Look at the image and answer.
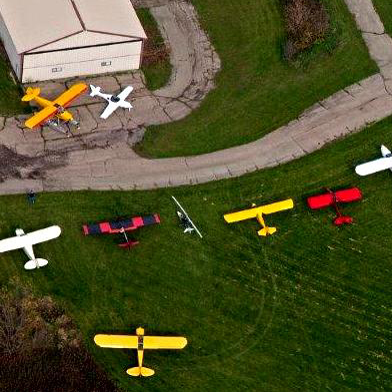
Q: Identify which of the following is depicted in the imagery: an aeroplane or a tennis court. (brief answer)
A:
aeroplane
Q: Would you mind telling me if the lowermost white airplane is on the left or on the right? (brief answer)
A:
left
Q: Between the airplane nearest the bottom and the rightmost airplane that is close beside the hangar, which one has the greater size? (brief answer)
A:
the airplane nearest the bottom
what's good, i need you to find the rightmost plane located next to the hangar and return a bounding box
[86,81,136,117]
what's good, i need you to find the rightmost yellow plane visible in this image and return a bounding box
[223,201,295,235]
